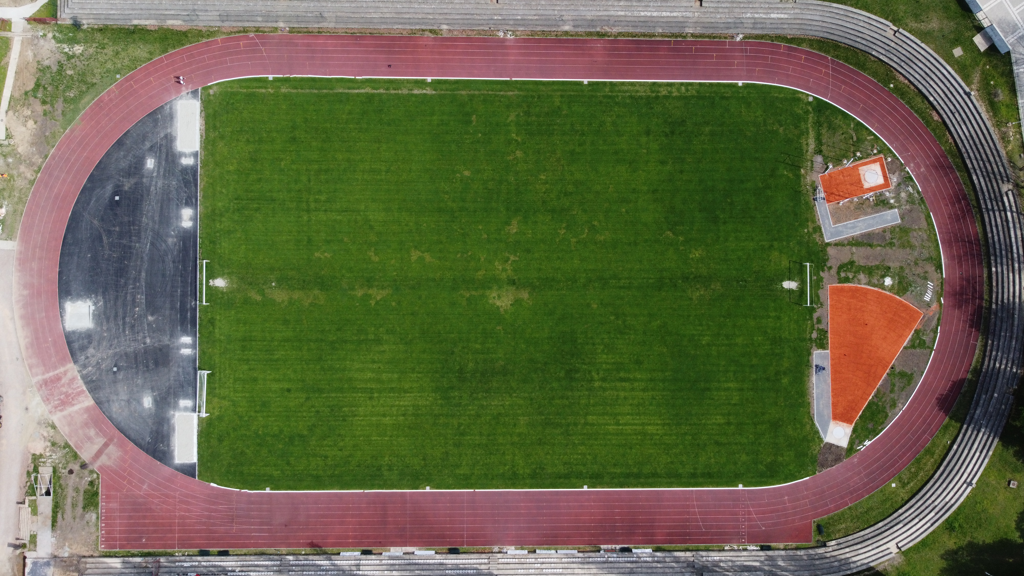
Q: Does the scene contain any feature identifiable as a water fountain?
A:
No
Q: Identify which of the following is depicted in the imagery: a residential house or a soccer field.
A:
soccer field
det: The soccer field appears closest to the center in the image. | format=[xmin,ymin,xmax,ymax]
[198,76,816,491]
